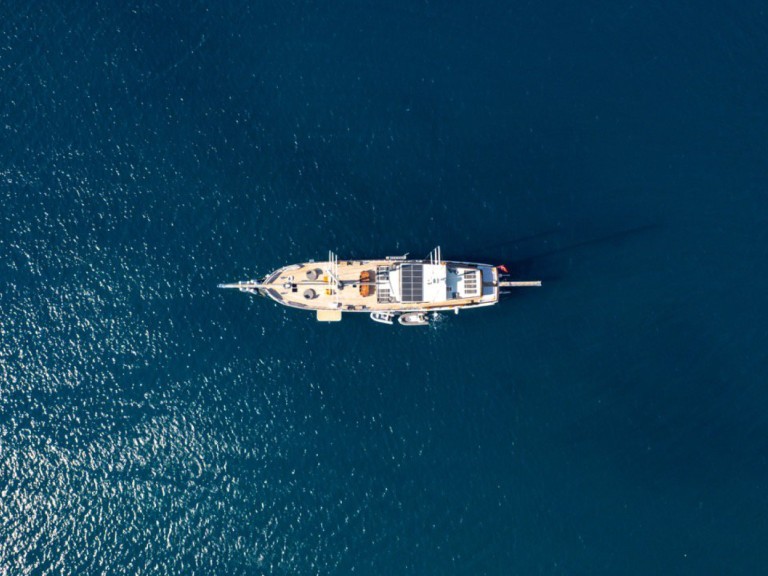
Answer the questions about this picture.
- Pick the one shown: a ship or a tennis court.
ship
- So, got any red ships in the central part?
No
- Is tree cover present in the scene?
No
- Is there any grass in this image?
No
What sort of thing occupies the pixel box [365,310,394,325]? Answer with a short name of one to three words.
boat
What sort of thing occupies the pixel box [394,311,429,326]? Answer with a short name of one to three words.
boat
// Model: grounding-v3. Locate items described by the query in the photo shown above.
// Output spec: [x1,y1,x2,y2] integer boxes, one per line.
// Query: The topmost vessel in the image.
[218,249,542,311]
